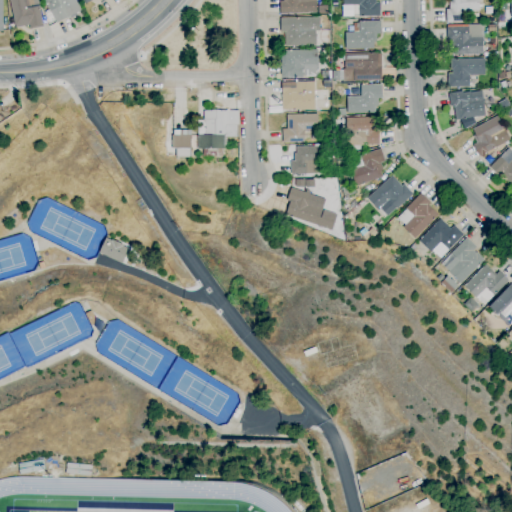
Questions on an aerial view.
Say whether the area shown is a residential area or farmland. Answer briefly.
residential area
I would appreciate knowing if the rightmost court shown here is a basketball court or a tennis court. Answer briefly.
tennis court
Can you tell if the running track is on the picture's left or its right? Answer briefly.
left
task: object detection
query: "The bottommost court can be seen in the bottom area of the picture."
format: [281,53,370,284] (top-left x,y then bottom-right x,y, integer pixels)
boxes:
[160,356,240,422]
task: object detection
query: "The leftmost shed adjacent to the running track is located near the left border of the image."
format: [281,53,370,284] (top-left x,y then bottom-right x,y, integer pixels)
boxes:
[19,460,46,475]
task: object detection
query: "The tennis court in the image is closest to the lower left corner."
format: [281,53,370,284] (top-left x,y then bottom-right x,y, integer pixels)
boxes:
[0,332,28,380]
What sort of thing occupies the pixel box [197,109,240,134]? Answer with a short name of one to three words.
building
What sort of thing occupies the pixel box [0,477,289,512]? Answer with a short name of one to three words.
running track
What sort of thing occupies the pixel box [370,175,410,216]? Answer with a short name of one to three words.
house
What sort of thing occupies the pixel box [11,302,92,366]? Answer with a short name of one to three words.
tennis court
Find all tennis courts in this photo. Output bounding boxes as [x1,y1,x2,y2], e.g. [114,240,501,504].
[31,198,108,256]
[160,356,240,422]
[100,321,179,388]
[0,234,36,277]
[0,332,28,380]
[11,302,92,366]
